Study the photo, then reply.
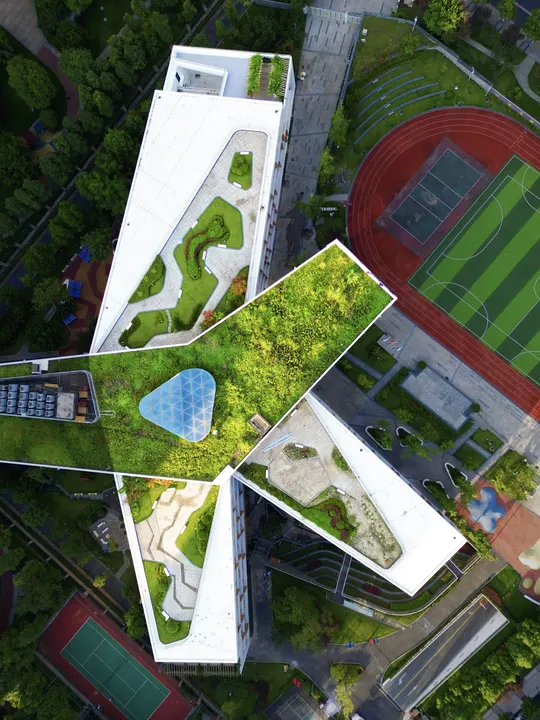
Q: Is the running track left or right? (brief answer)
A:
right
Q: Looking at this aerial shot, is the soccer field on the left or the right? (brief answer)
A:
right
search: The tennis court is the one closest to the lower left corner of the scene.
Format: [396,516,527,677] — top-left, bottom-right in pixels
[39,593,206,720]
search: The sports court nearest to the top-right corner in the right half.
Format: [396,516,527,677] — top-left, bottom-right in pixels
[378,136,494,258]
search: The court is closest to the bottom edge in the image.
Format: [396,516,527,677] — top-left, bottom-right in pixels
[262,682,336,720]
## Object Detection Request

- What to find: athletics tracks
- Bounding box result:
[347,105,540,427]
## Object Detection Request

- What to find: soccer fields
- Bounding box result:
[409,155,540,385]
